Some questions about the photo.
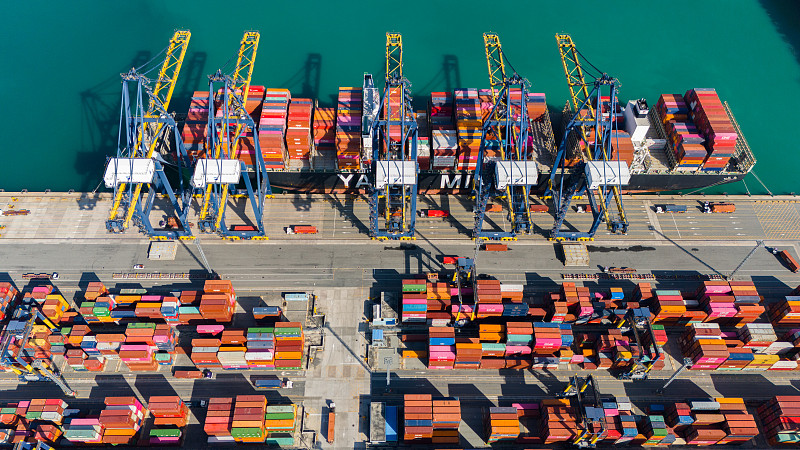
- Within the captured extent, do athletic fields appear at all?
No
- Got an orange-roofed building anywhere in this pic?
No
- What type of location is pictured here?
port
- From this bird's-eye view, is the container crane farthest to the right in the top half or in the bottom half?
bottom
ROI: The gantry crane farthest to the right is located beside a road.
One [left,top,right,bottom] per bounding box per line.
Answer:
[613,304,663,376]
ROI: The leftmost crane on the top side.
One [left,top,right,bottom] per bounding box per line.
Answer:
[103,27,202,243]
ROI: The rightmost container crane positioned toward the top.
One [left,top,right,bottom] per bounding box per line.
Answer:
[541,30,634,244]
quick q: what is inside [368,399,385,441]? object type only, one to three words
building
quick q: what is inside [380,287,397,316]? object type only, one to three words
building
